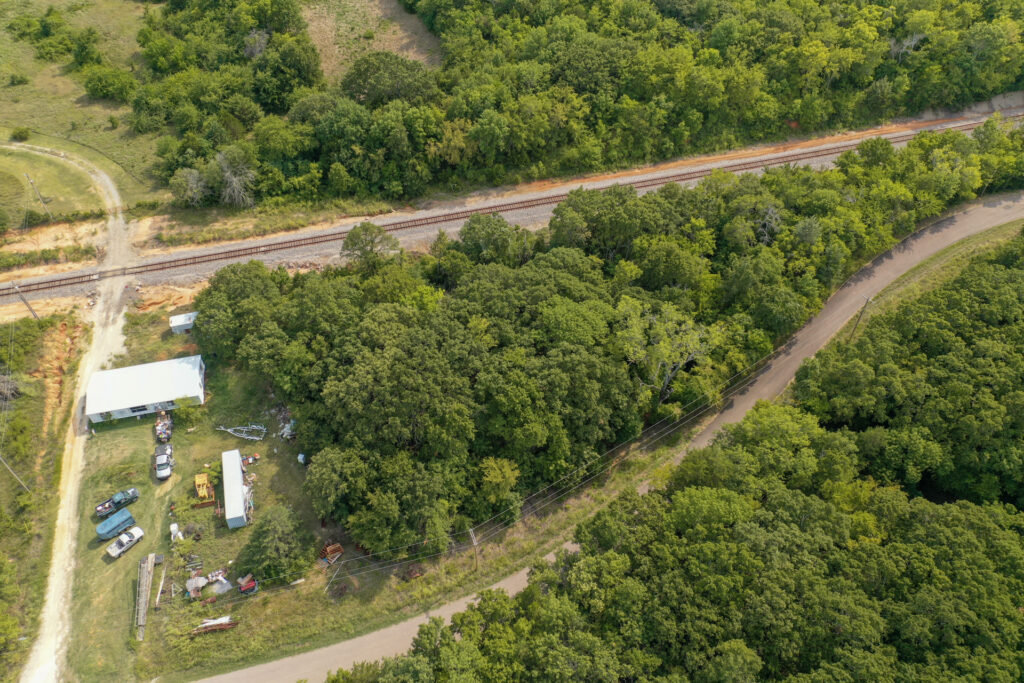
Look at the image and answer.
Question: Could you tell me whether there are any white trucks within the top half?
No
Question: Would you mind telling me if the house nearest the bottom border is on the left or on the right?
left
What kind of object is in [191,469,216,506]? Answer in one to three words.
work vehicle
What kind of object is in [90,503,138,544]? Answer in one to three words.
trailer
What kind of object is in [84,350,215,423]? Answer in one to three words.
house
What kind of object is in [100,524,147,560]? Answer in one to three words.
truck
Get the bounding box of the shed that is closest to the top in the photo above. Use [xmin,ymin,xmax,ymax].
[165,309,197,333]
